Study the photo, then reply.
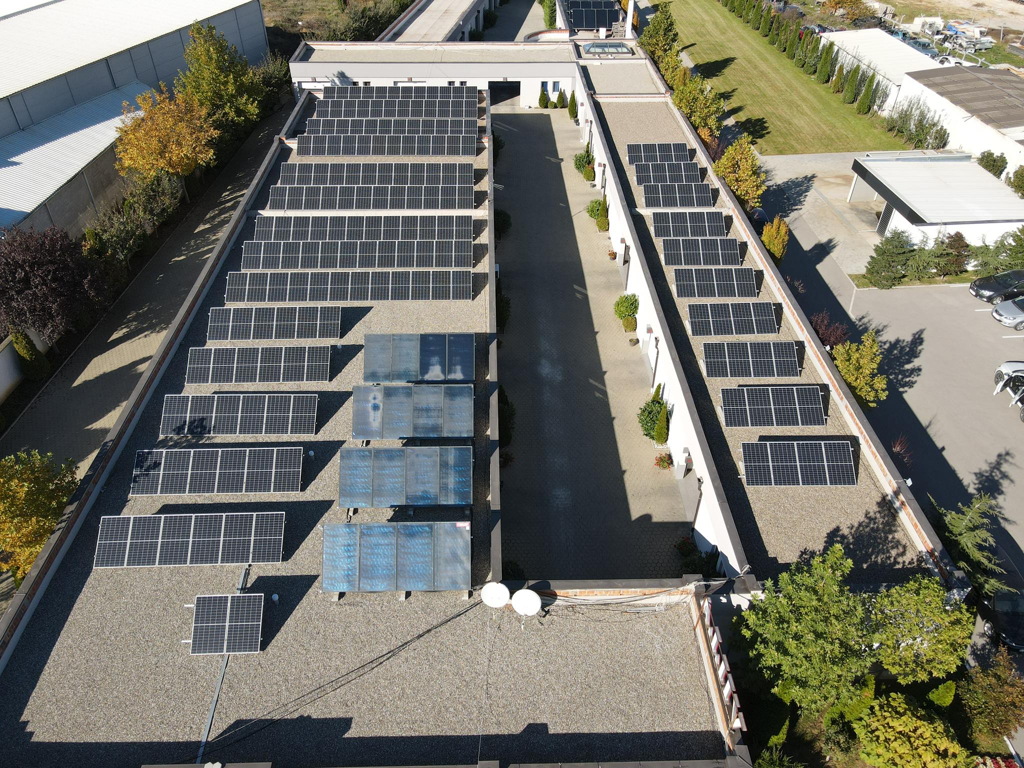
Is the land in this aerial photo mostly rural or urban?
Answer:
urban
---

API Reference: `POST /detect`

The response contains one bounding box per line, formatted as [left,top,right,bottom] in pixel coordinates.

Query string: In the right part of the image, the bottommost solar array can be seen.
[736,443,859,489]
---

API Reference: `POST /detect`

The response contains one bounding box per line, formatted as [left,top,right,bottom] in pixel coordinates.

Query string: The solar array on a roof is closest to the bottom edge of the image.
[172,596,270,656]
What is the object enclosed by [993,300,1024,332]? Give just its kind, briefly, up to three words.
car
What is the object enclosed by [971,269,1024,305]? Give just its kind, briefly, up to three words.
car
